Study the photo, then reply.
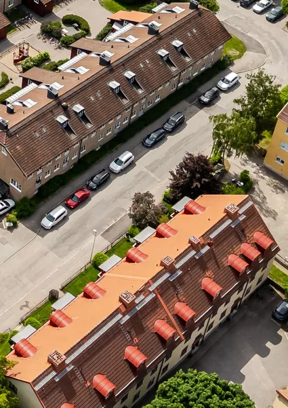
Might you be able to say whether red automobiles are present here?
Yes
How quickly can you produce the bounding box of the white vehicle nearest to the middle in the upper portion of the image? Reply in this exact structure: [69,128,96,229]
[109,151,135,173]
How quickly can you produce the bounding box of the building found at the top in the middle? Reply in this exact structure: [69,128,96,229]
[0,2,235,197]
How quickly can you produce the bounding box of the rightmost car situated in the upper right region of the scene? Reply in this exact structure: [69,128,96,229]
[265,7,284,22]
